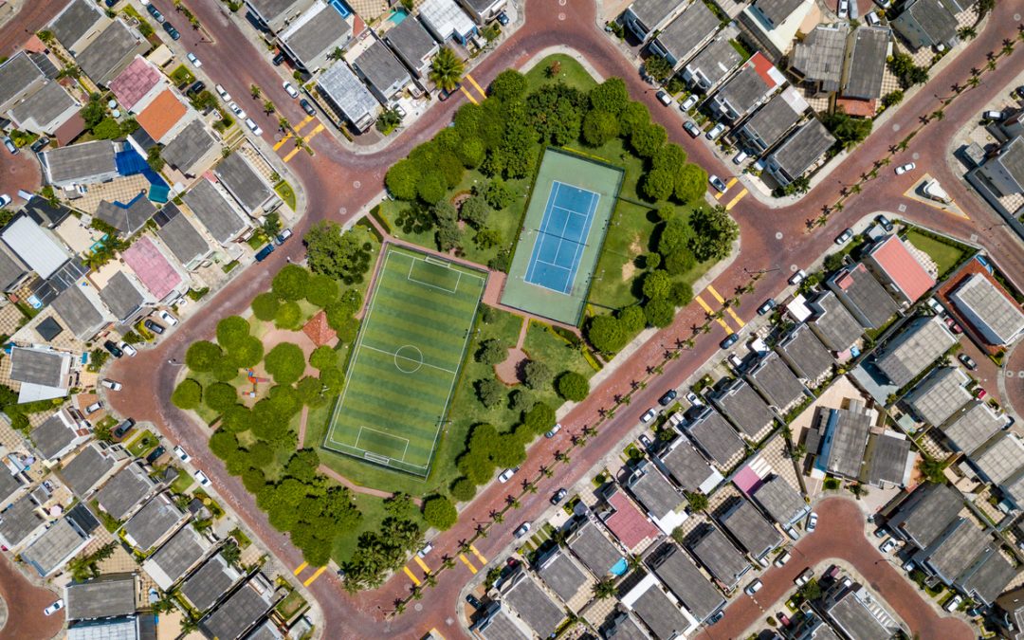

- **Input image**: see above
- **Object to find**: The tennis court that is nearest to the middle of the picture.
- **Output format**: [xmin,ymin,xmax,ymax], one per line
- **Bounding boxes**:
[501,149,623,326]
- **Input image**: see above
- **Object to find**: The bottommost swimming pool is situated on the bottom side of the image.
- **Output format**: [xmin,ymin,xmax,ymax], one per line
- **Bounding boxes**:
[610,558,630,577]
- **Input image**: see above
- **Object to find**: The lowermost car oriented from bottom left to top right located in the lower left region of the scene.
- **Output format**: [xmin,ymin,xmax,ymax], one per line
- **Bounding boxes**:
[45,598,65,614]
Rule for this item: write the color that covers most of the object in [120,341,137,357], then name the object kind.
white car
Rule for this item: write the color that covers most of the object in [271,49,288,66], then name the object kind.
black car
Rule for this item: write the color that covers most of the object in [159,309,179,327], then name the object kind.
white car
